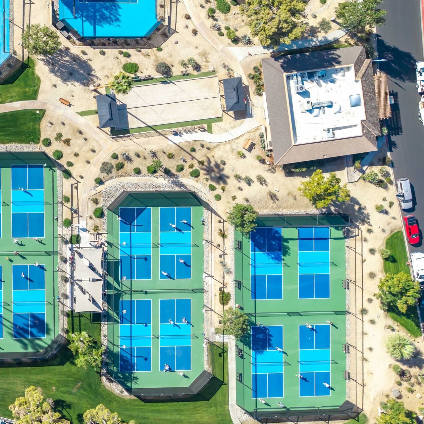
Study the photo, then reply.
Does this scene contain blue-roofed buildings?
No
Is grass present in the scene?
Yes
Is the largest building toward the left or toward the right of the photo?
right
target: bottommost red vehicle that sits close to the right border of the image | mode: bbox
[402,214,423,243]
